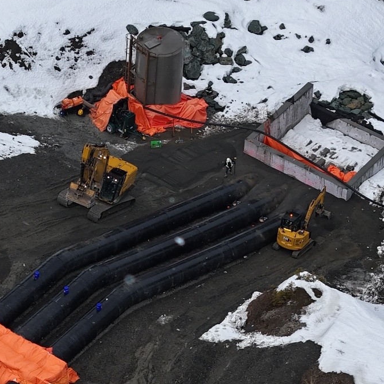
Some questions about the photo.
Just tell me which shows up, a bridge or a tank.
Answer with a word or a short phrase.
tank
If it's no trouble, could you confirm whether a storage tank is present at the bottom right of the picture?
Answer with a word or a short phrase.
No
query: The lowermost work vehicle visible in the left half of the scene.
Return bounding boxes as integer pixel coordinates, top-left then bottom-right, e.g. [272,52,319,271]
[58,148,149,232]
